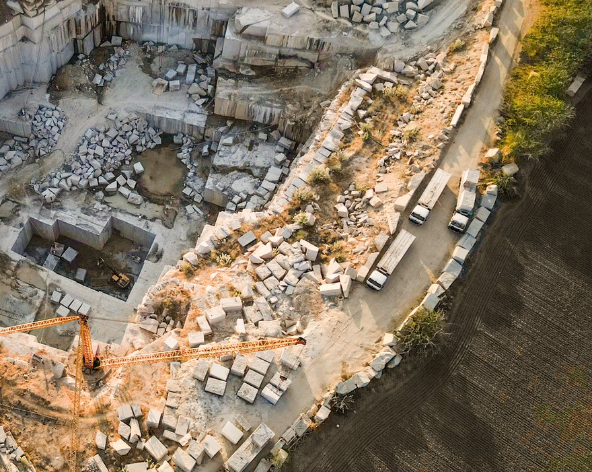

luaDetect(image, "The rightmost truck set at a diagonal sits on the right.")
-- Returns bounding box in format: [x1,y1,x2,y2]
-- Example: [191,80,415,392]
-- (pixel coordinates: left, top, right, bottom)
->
[408,168,452,226]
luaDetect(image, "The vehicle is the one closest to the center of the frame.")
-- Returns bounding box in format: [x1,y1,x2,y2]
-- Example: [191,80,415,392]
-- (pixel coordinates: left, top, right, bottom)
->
[365,229,417,292]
